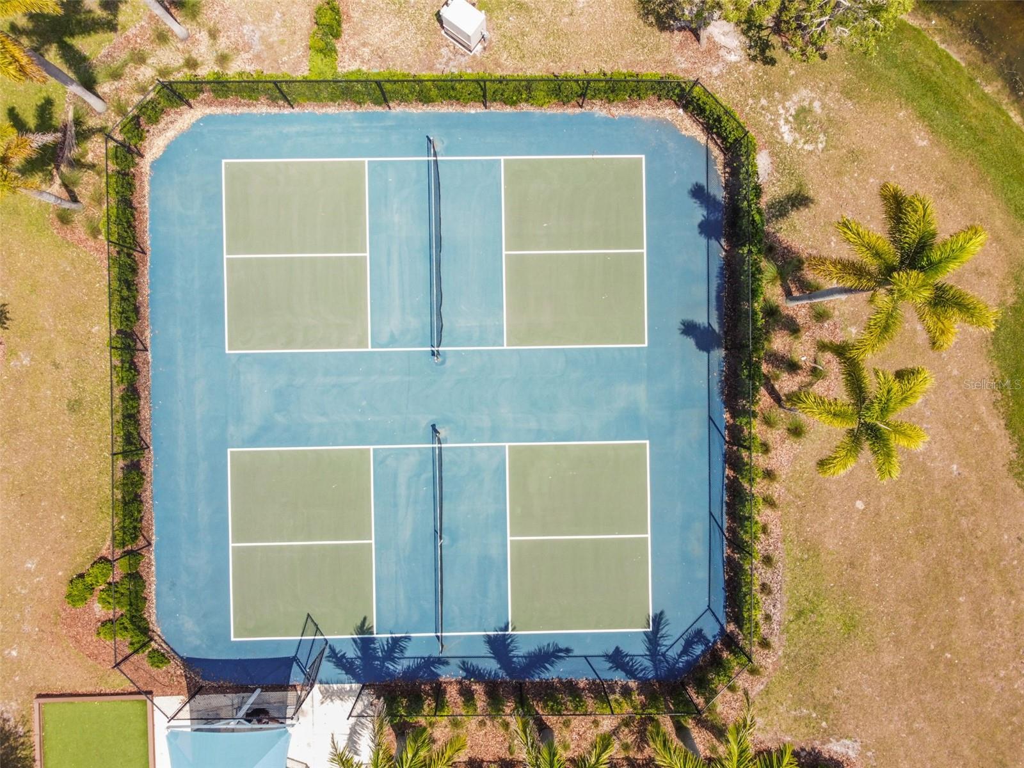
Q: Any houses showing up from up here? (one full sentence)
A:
No, the photo shows no house.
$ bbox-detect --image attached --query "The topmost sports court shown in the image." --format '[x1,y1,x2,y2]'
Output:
[222,155,648,353]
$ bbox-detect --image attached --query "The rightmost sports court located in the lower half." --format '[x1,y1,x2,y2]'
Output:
[227,441,652,641]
